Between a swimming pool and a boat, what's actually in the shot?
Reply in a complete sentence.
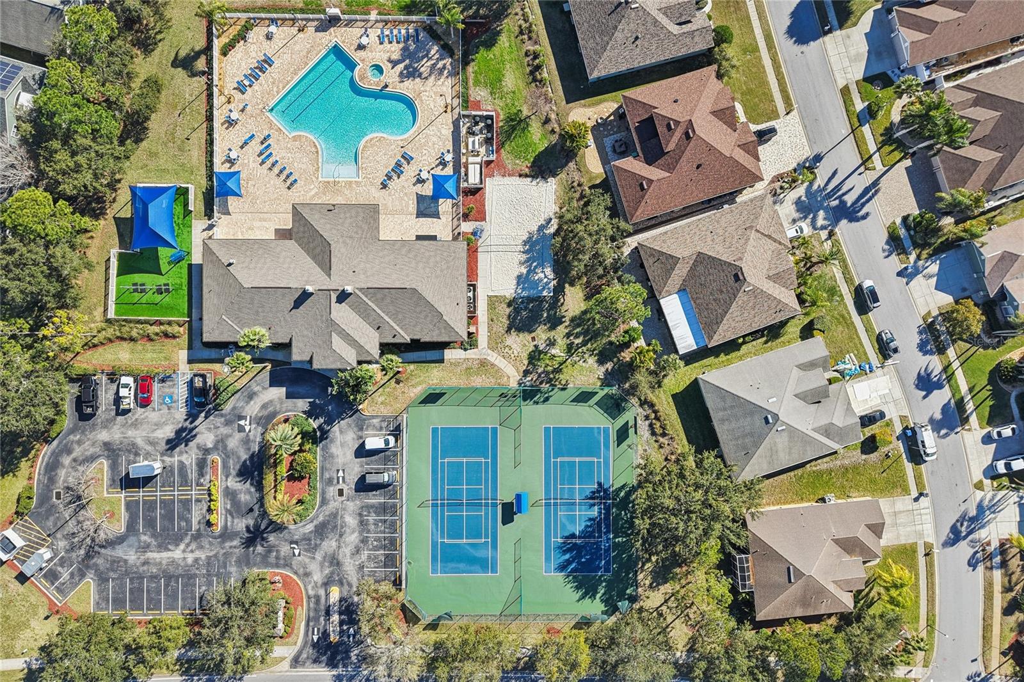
It is a swimming pool that can be seen here.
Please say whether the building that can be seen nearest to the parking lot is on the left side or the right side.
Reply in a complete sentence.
You can find the building that can be seen nearest to the parking lot on the left side of the picture.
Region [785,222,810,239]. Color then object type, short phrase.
white car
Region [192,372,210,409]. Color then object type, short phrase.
black vehicle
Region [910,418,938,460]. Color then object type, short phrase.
white vehicle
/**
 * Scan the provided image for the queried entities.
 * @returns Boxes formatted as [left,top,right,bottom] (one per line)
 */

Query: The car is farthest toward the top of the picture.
[753,124,780,142]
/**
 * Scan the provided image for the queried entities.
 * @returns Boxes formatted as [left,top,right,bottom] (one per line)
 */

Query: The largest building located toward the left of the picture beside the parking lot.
[202,204,467,368]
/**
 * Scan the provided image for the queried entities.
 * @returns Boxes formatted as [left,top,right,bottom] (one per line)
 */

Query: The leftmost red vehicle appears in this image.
[138,376,155,405]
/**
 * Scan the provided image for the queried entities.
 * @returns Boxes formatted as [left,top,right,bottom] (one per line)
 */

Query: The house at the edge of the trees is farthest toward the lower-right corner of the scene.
[737,498,885,620]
